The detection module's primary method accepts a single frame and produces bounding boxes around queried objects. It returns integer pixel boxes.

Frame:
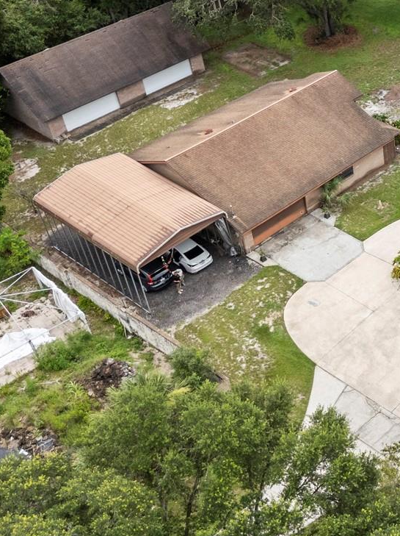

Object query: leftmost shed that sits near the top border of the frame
[0,0,225,139]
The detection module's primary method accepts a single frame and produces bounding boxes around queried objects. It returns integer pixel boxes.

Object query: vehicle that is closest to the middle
[165,238,211,270]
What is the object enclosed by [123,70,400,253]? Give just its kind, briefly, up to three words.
shed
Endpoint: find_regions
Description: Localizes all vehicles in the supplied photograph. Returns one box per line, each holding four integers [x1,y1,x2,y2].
[109,259,172,292]
[165,238,211,270]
